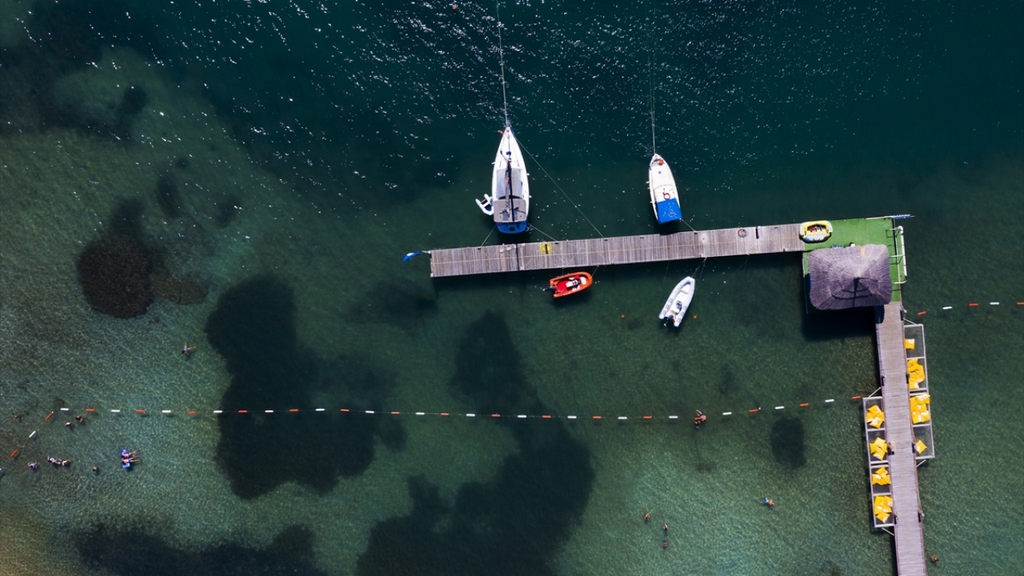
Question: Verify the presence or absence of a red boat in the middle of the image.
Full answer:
Yes, a red boat appears in the middle of the image.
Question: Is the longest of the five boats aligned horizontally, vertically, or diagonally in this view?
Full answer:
What the image shows is the longest of the five boats lying vertically.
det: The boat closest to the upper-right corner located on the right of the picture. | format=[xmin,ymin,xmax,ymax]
[646,153,684,225]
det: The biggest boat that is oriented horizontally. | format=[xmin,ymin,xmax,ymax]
[542,272,594,297]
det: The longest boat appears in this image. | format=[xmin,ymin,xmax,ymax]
[490,124,531,234]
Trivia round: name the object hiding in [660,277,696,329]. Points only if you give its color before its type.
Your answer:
white boat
